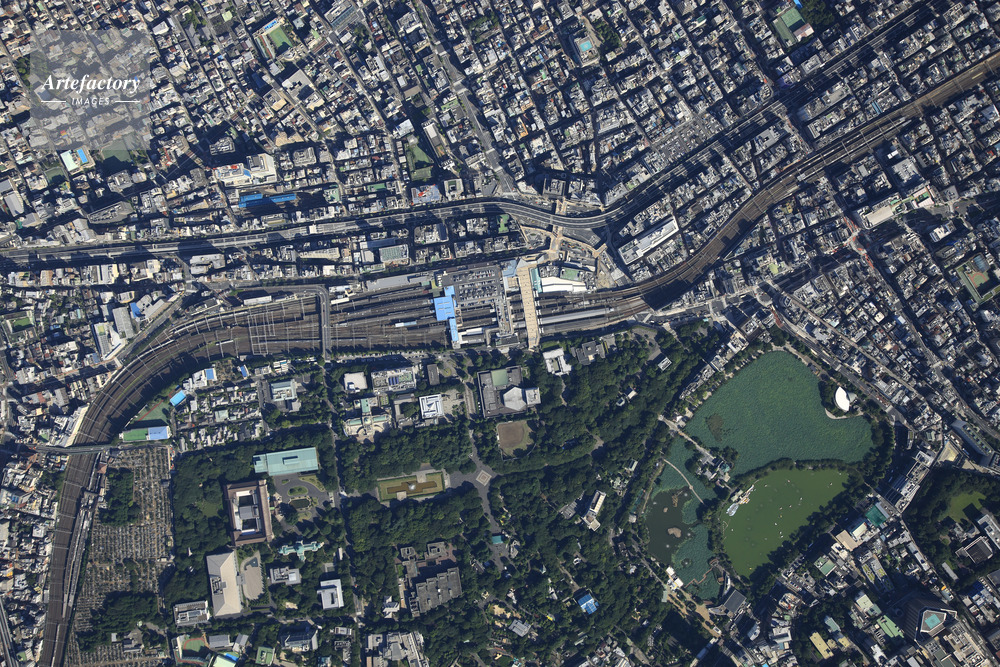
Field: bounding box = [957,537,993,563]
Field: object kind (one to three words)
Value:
house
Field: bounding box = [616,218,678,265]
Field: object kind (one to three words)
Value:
building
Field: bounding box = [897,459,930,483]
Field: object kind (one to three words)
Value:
building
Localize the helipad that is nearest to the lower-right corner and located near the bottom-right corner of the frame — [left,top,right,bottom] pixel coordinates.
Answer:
[925,614,940,628]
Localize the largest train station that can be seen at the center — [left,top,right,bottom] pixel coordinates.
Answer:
[268,253,613,350]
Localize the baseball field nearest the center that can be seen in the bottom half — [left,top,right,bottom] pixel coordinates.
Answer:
[497,420,539,460]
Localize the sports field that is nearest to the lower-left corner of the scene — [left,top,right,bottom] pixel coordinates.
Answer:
[121,400,174,433]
